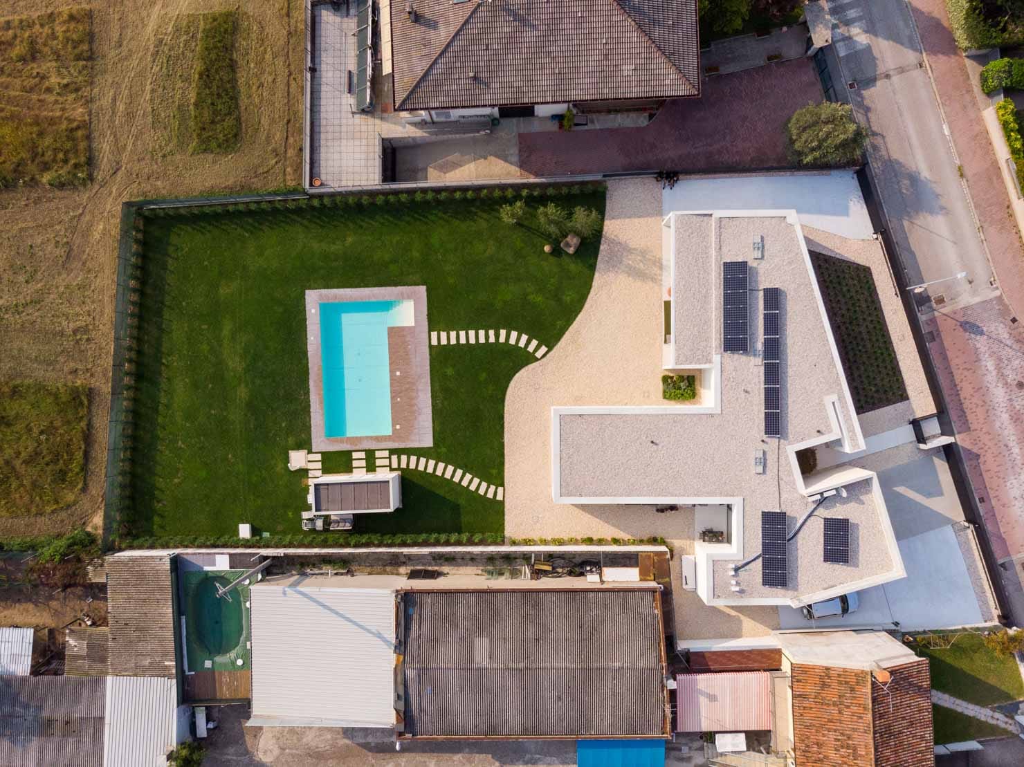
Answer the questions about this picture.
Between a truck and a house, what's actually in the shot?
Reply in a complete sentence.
There is a house in the scene.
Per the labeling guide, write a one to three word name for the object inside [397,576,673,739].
shed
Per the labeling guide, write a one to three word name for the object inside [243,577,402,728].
shed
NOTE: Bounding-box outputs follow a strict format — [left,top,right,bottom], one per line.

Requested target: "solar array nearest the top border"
[724,261,749,353]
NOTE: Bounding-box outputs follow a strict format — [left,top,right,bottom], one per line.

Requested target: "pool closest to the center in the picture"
[320,299,414,438]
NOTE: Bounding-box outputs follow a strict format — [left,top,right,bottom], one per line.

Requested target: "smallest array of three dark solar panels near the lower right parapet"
[823,516,849,564]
